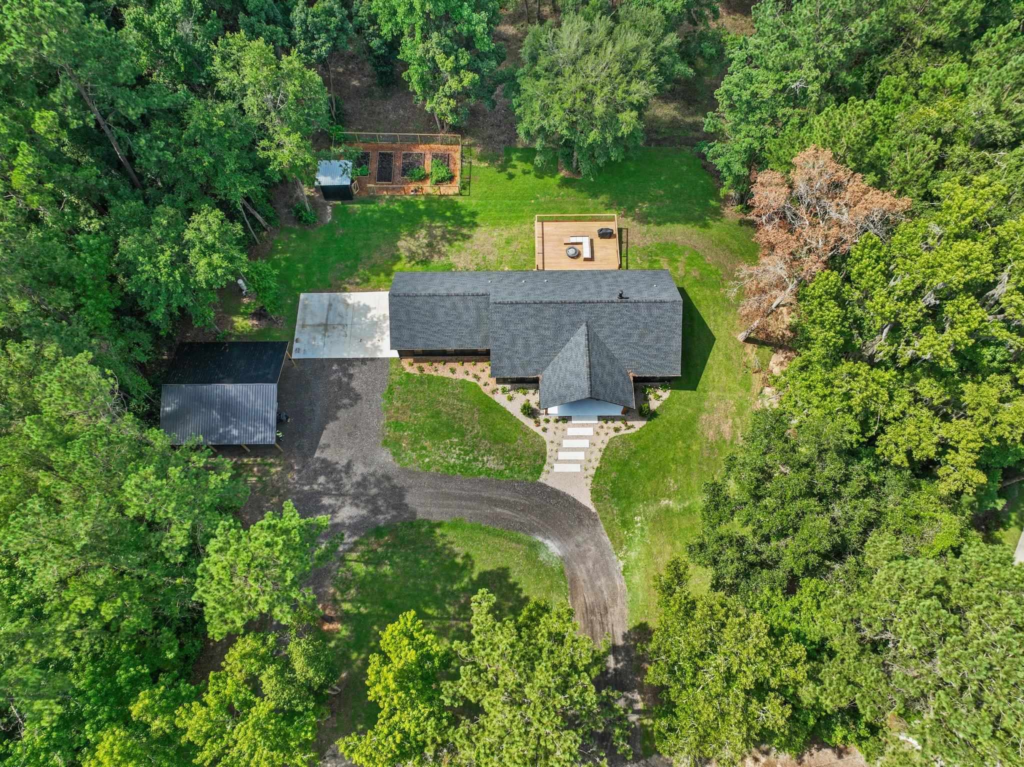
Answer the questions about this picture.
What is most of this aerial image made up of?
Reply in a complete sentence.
Most of the picture is covered by trees.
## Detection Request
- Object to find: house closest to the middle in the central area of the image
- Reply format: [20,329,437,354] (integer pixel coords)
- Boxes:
[387,270,684,417]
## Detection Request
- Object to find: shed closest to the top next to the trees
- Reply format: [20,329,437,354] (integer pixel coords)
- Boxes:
[315,159,355,200]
